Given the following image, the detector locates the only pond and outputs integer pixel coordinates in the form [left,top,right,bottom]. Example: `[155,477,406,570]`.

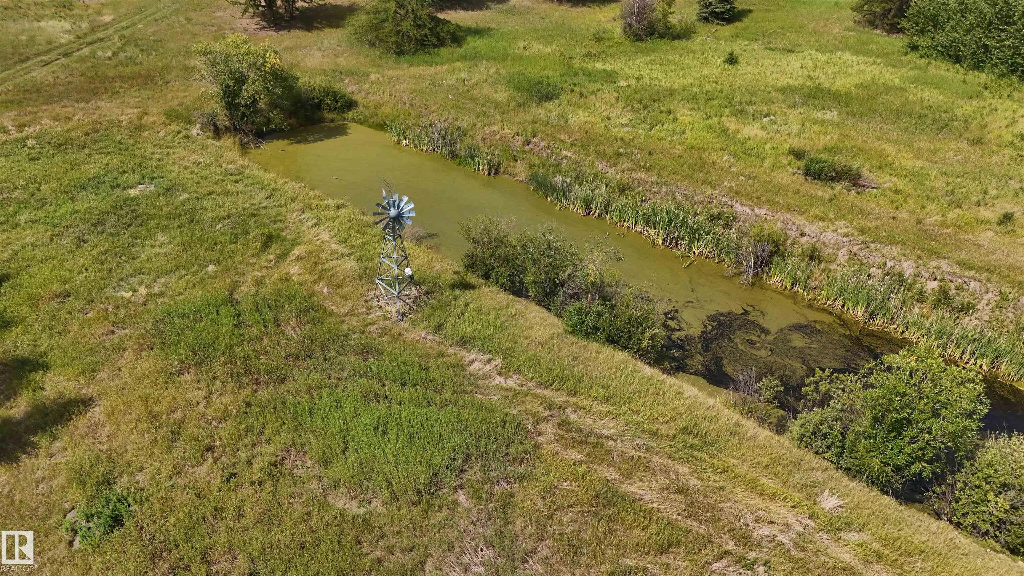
[251,122,1024,549]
